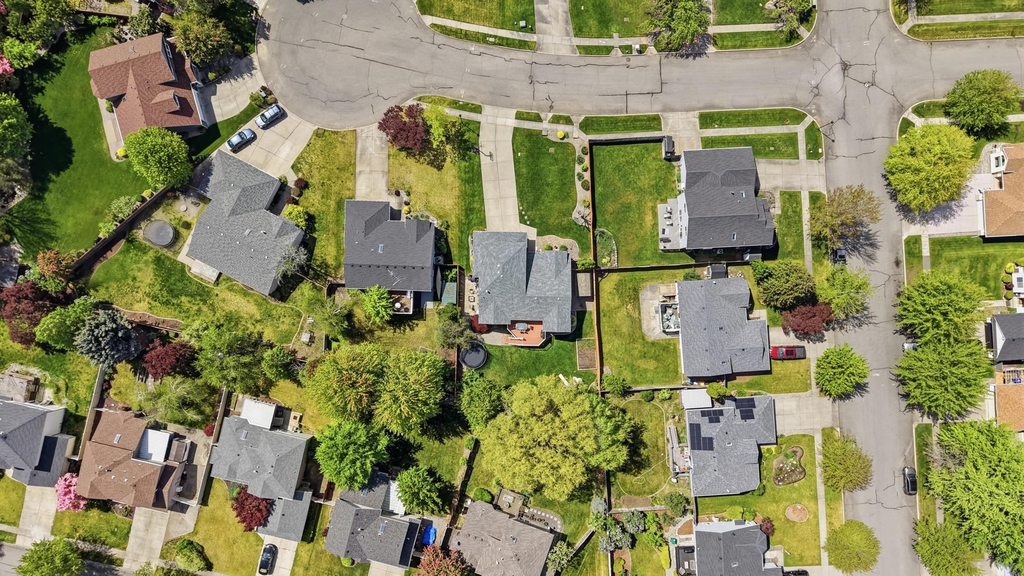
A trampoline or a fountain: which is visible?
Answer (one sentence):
It is a trampoline that can be seen here.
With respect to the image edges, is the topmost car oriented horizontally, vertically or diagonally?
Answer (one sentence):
In this picture, the topmost car is oriented diagonally.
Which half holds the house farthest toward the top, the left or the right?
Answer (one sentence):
The house farthest toward the top sits on the left side.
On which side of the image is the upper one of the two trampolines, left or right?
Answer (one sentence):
The upper one of the two trampolines is on the left side of the image.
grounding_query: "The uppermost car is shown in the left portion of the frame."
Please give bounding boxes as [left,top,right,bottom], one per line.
[252,102,284,129]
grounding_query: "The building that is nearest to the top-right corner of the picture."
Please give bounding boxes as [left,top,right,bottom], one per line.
[974,145,1024,238]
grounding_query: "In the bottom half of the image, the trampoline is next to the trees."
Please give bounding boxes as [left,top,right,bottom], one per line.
[459,341,488,370]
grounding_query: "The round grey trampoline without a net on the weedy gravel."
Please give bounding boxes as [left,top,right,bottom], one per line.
[144,218,174,248]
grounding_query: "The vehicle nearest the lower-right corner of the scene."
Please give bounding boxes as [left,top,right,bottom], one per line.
[902,466,920,497]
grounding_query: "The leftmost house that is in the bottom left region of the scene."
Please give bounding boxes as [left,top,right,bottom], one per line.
[0,391,75,488]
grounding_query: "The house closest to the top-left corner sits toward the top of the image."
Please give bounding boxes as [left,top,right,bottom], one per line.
[87,33,205,143]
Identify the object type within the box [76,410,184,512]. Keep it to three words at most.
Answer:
house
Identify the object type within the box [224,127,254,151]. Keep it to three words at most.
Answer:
car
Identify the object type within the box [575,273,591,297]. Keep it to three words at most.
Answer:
shed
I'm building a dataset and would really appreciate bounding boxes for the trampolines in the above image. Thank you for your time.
[144,218,174,248]
[459,341,488,370]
